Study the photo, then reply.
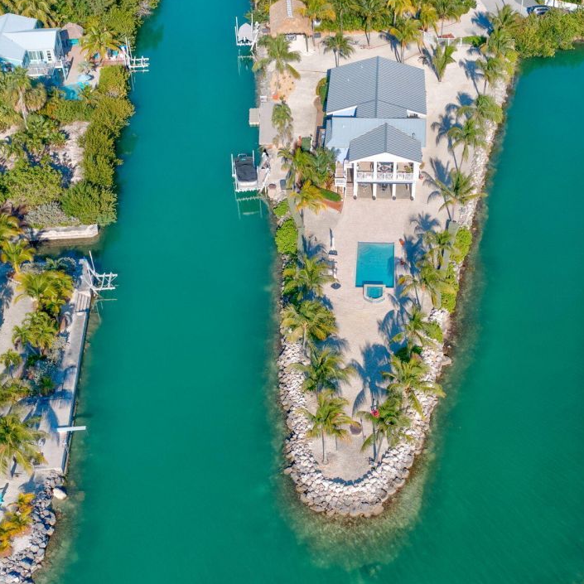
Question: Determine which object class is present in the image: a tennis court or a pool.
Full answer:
Of the two, only a pool appears.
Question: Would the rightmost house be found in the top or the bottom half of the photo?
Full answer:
The top half of the photo is where the rightmost house is.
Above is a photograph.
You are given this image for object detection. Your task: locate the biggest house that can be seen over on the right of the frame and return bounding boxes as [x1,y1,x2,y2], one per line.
[325,55,429,202]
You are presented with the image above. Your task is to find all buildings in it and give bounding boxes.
[325,55,429,202]
[0,13,71,88]
[265,2,317,48]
